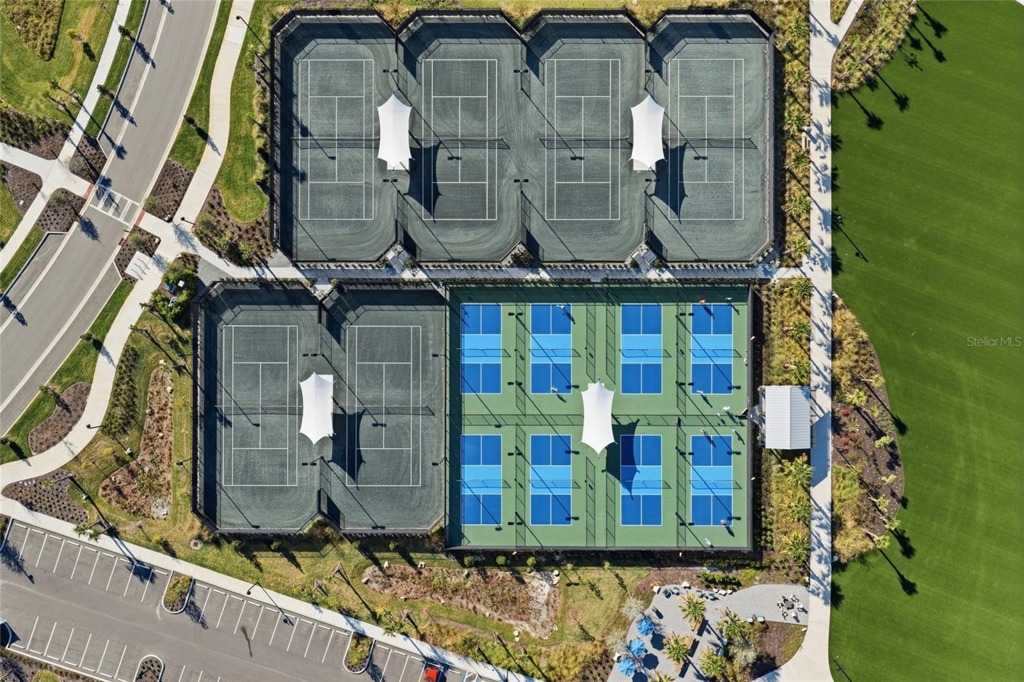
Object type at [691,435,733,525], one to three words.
sports court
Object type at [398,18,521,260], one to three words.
tennis court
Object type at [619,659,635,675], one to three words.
umbrella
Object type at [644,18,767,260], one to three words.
tennis court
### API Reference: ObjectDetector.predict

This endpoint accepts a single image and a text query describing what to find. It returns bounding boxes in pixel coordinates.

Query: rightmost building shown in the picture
[763,386,810,451]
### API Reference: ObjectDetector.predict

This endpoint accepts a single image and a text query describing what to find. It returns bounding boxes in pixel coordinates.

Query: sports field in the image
[831,0,1024,682]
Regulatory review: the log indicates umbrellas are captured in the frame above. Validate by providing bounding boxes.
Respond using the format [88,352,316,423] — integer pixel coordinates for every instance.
[629,639,645,654]
[619,659,635,675]
[637,619,654,635]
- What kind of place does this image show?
sports ground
